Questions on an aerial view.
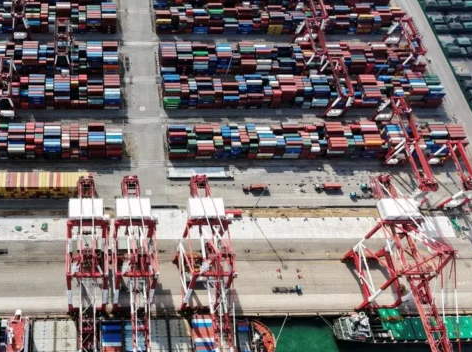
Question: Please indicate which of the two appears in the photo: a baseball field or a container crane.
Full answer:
This aerial view contains a container crane.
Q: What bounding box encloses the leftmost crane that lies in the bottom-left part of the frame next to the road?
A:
[65,170,112,352]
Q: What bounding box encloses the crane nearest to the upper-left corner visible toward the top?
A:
[11,0,34,41]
